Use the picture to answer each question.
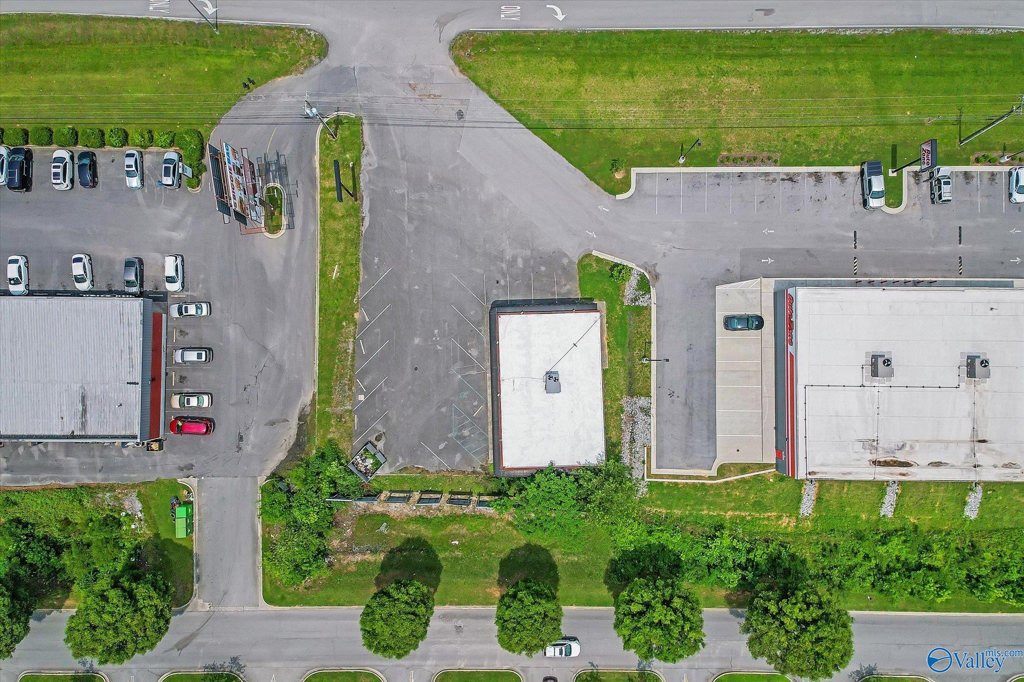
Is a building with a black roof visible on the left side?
No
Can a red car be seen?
Yes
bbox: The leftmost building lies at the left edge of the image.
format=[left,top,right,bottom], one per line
[0,295,167,442]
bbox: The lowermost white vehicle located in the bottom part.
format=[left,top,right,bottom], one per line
[545,637,581,659]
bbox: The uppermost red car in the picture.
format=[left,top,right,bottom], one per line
[170,416,214,436]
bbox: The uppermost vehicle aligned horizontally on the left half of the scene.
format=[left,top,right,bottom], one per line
[170,300,211,318]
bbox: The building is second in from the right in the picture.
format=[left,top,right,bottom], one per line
[490,303,606,476]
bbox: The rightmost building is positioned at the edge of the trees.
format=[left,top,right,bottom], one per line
[775,286,1024,484]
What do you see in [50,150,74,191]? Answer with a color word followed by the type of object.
white car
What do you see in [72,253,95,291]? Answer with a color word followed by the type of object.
white car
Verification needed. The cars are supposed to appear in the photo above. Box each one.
[7,255,30,295]
[76,151,98,189]
[545,637,581,659]
[170,416,214,436]
[123,150,145,190]
[160,151,182,189]
[163,254,185,292]
[723,313,764,332]
[122,257,144,295]
[926,168,954,204]
[170,300,211,318]
[171,391,212,409]
[72,253,95,291]
[174,346,214,364]
[0,146,10,185]
[50,150,74,191]
[5,147,32,192]
[1008,166,1024,204]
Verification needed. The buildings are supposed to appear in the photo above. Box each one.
[0,295,167,442]
[490,303,606,476]
[775,286,1024,484]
